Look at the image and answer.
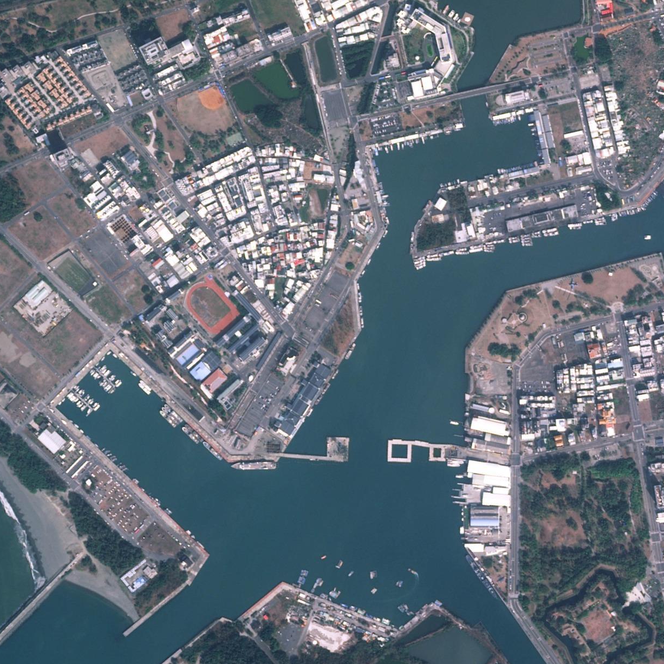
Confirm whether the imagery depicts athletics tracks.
Yes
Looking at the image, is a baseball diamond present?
Yes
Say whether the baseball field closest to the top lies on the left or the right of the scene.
left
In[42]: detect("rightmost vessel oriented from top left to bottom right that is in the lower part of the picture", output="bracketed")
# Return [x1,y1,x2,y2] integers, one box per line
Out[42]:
[468,557,497,600]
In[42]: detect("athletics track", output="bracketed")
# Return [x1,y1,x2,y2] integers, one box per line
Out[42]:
[185,275,238,334]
